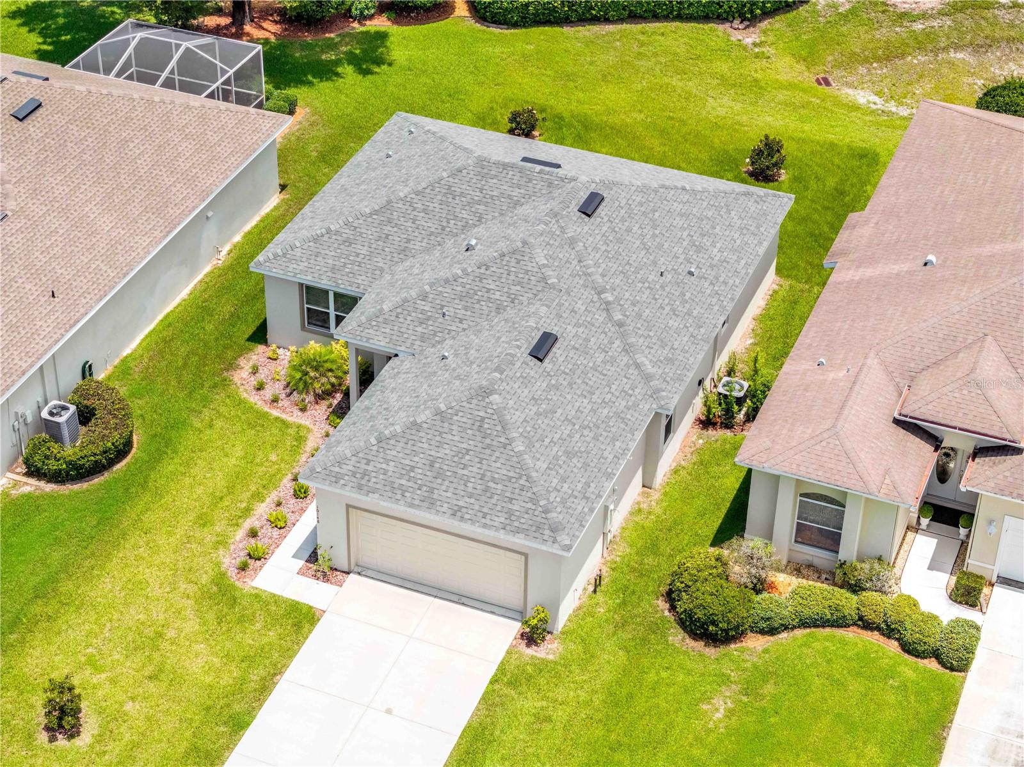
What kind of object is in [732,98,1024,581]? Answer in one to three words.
house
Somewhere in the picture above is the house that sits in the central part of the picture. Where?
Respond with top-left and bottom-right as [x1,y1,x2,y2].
[248,110,796,631]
